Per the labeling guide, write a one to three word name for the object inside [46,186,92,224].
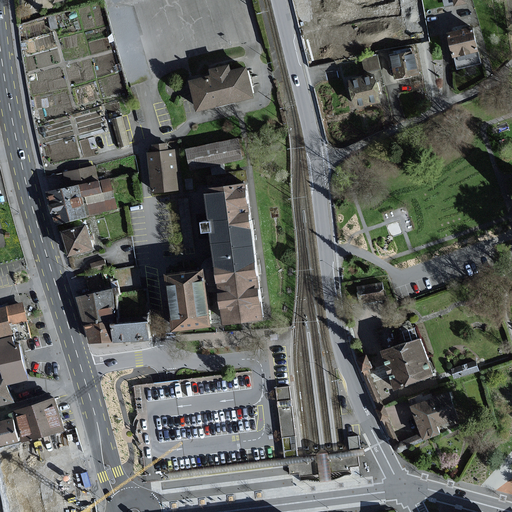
house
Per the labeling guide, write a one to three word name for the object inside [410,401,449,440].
house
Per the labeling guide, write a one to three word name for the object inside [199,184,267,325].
building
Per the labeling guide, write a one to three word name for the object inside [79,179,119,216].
building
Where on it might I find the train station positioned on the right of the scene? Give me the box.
[262,316,366,482]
